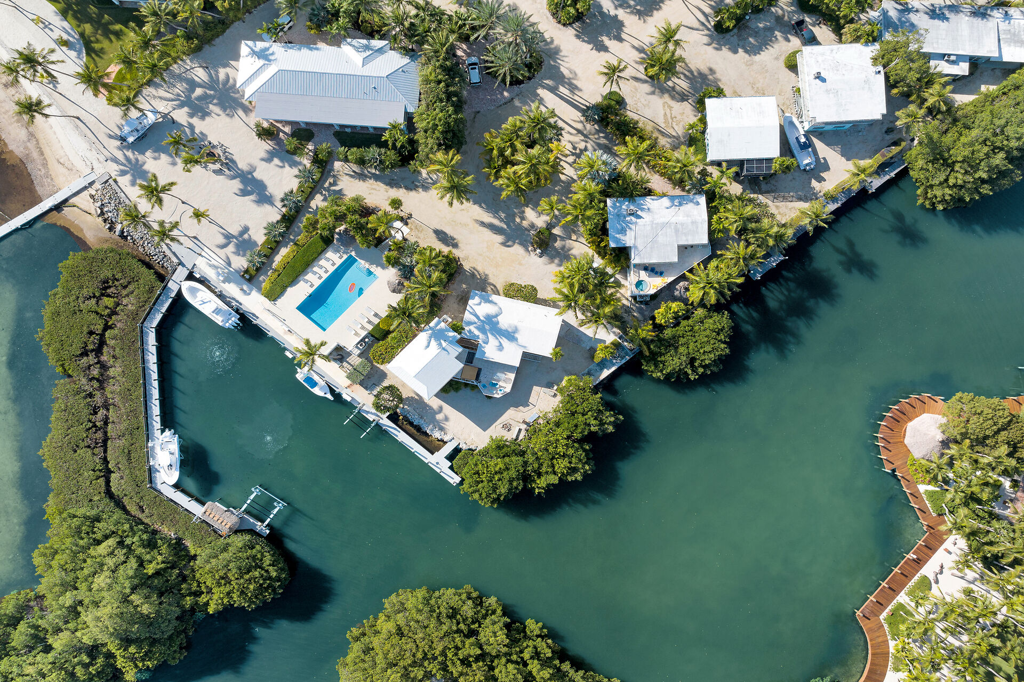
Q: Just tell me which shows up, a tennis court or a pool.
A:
pool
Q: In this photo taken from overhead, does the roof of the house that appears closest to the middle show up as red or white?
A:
white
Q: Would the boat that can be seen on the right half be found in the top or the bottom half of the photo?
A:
top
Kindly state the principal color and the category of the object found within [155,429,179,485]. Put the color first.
white boat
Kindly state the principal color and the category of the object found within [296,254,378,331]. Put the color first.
blue swimming pool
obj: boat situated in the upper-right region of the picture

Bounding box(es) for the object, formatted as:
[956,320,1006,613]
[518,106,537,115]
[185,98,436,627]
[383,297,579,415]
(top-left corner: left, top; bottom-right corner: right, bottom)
[786,115,816,175]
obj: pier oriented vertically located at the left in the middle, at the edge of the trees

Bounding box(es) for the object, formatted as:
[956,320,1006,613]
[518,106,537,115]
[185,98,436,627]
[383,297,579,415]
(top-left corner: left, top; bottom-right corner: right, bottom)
[140,263,271,536]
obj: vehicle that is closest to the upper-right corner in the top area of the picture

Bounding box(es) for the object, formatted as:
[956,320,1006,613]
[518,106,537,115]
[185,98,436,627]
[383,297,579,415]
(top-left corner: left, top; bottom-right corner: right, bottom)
[794,15,820,45]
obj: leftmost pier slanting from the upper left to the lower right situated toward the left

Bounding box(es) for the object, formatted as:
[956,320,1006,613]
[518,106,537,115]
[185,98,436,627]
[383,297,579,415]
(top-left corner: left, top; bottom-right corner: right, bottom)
[189,261,461,485]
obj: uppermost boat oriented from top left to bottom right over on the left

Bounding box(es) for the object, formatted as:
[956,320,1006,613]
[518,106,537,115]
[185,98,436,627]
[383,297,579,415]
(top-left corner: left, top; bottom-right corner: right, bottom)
[182,284,245,332]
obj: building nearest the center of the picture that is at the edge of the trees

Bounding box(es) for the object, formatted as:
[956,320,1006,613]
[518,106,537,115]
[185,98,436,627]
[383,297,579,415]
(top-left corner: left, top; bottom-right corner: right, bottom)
[456,290,562,398]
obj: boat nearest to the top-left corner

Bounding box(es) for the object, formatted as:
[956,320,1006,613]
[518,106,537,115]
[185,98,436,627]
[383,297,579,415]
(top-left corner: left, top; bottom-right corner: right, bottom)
[120,113,155,145]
